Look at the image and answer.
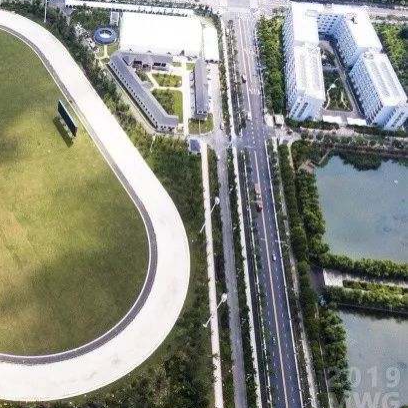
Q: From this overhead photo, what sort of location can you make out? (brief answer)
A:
sports ground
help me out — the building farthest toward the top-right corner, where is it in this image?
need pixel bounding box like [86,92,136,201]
[281,1,408,127]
